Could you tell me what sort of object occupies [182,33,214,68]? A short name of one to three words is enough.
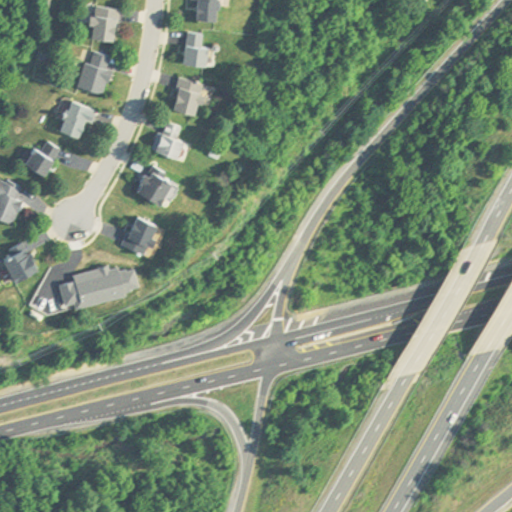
house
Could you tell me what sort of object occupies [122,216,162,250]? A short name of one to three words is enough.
house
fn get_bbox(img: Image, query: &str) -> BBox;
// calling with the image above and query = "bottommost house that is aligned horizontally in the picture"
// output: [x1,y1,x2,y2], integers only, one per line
[58,264,136,309]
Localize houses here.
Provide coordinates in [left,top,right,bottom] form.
[154,121,187,158]
[58,264,136,309]
[139,166,174,203]
[173,78,208,115]
[78,51,115,94]
[5,244,39,282]
[60,100,96,136]
[122,216,162,250]
[196,0,218,23]
[26,141,59,174]
[182,33,214,68]
[0,178,25,219]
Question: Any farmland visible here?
No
